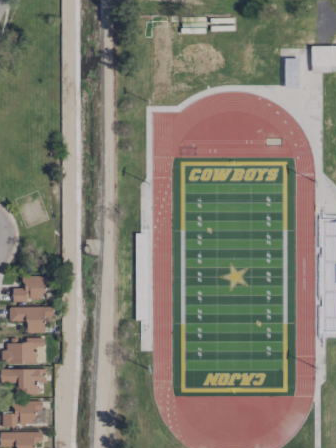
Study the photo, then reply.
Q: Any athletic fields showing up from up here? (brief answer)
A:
Yes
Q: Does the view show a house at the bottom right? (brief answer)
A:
No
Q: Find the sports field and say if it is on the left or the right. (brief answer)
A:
right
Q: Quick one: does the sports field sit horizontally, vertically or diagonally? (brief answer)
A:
vertically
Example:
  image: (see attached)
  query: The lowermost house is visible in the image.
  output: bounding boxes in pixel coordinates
[0,432,42,448]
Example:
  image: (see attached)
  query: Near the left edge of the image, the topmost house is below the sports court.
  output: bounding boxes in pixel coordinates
[12,276,44,302]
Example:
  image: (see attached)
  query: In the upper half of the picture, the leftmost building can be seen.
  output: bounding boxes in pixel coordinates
[285,57,300,88]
